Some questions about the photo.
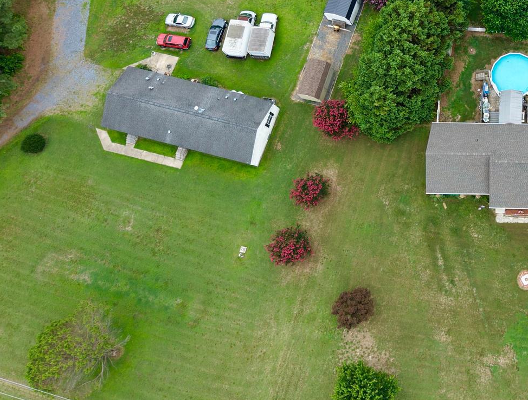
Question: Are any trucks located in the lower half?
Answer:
No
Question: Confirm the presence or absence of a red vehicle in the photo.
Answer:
Yes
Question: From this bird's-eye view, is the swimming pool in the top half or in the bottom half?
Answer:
top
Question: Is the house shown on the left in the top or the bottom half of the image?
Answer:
top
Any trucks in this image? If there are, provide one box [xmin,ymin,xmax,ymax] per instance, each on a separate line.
[249,13,280,64]
[224,11,257,63]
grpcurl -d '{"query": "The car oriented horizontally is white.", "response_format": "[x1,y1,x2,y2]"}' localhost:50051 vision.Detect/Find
[164,12,198,30]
